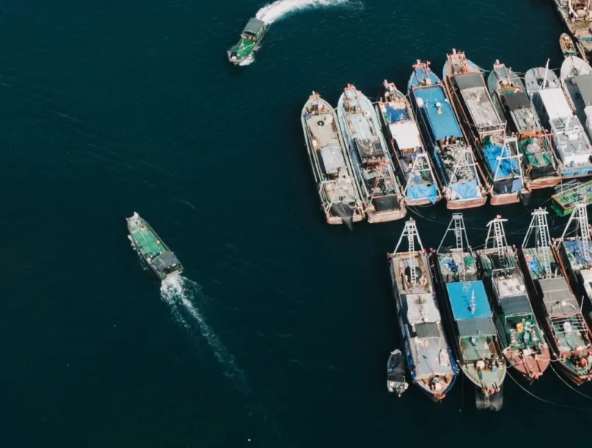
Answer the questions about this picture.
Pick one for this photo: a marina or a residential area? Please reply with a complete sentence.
It's a marina.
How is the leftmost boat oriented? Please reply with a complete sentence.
The leftmost boat is oriented on a diagonal.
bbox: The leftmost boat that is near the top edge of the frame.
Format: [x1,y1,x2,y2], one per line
[231,12,269,72]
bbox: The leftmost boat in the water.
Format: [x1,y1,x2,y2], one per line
[130,214,184,284]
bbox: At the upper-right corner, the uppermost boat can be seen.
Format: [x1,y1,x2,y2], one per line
[561,33,580,63]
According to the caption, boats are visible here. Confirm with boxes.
[522,199,590,389]
[564,53,592,151]
[130,214,184,284]
[341,79,404,226]
[377,76,442,209]
[446,45,525,205]
[480,201,543,389]
[231,12,269,72]
[558,195,592,338]
[439,208,501,403]
[411,56,484,209]
[489,56,560,192]
[386,352,410,397]
[304,87,363,228]
[391,210,452,406]
[561,33,580,63]
[533,64,592,182]
[550,177,592,217]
